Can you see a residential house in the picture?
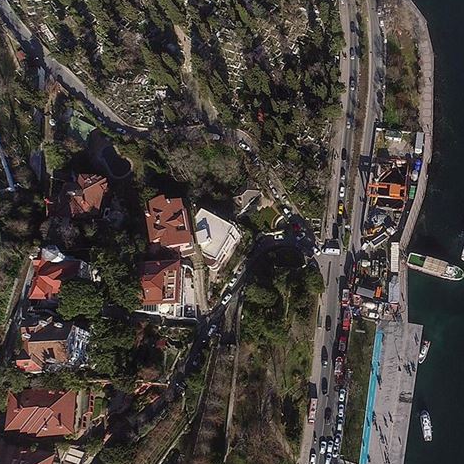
Yes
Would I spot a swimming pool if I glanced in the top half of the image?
Yes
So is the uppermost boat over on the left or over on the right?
right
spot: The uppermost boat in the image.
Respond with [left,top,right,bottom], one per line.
[408,252,464,279]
